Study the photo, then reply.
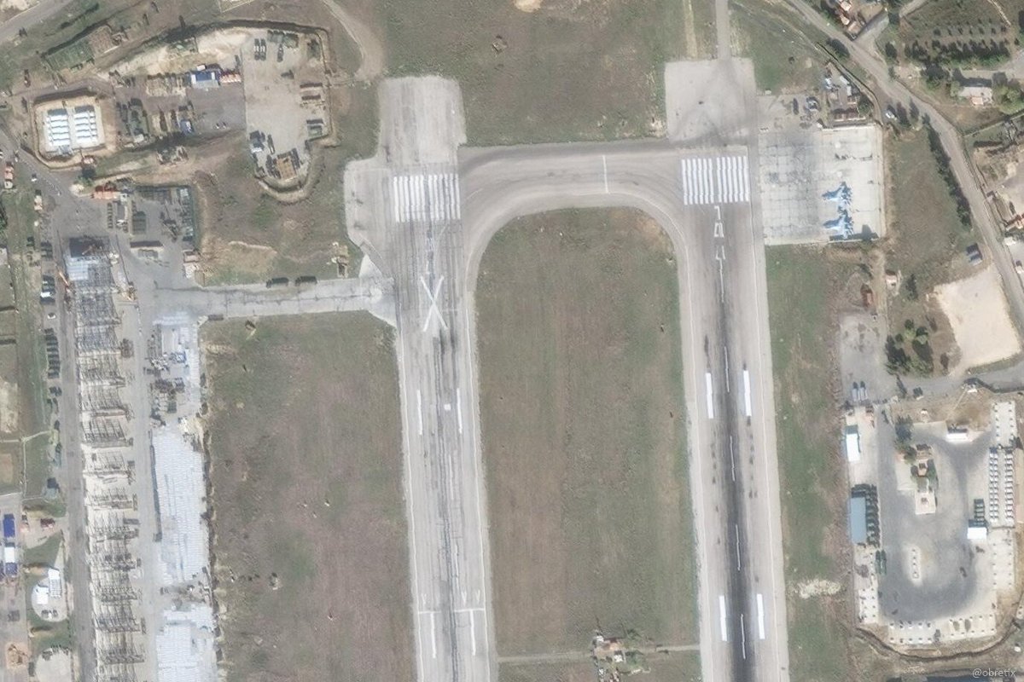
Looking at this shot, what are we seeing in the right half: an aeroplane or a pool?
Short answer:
aeroplane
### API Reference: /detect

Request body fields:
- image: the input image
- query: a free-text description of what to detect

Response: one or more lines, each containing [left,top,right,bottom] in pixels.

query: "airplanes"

[823,186,854,209]
[824,215,855,238]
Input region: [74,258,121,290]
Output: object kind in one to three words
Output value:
hangar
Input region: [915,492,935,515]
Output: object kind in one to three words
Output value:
building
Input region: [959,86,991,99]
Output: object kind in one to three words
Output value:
house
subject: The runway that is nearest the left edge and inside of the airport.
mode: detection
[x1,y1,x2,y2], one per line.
[391,146,498,682]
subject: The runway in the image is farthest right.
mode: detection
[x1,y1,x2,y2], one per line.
[657,129,789,682]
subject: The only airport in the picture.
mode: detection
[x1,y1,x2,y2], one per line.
[73,57,887,682]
